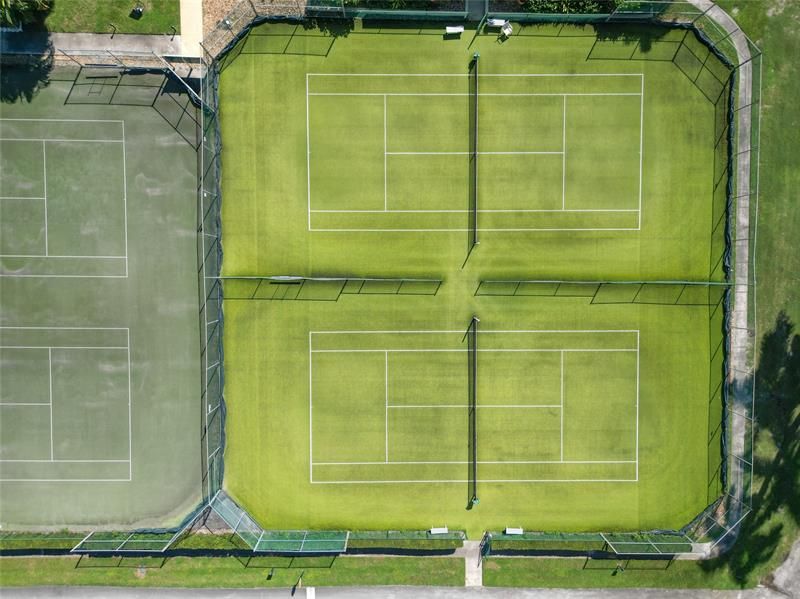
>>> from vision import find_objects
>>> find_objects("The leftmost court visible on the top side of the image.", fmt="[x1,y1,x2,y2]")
[0,68,217,302]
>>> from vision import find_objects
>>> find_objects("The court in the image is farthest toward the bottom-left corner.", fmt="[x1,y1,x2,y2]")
[0,302,220,530]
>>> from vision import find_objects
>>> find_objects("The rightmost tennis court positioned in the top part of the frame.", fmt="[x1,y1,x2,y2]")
[215,19,730,282]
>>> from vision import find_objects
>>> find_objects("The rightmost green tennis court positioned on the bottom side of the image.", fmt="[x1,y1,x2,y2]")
[218,282,727,541]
